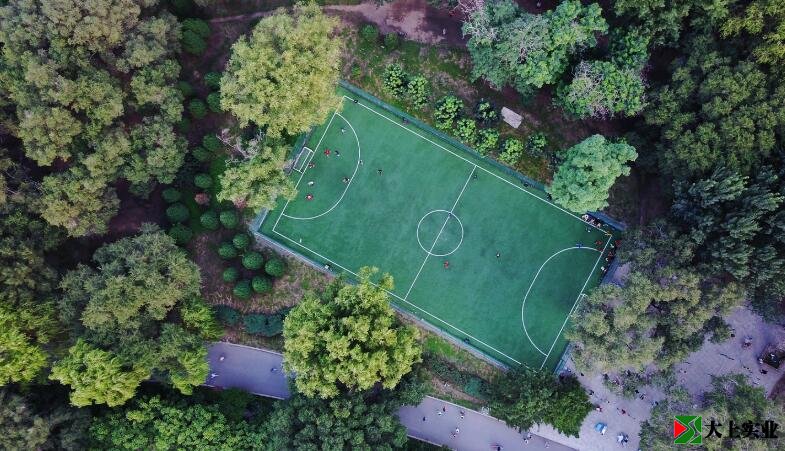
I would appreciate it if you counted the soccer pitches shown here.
one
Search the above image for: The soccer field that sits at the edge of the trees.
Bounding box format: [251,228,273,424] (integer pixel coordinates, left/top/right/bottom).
[261,87,621,380]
